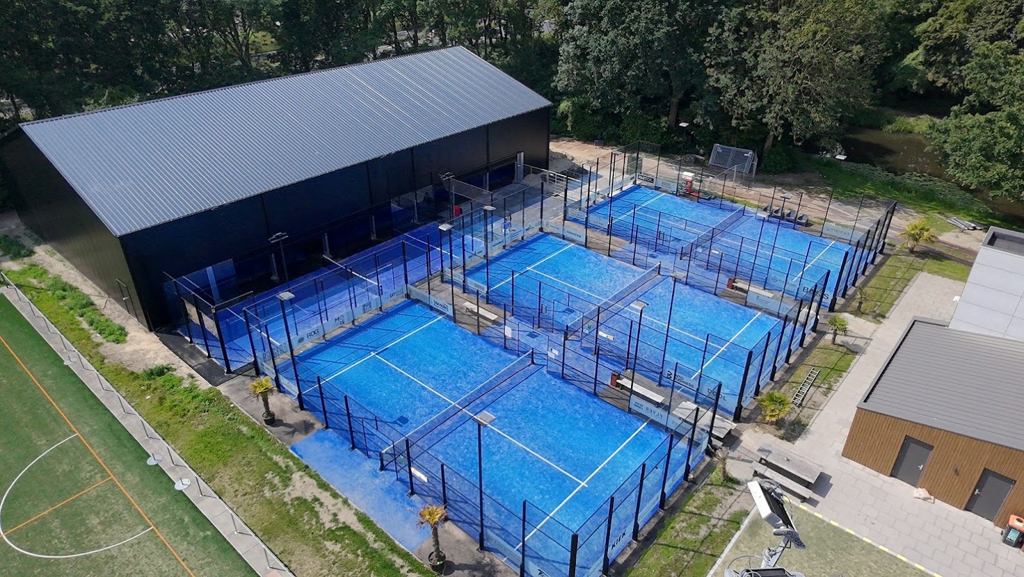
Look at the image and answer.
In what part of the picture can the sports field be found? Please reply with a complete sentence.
The sports field sits in the bottom left section of the image.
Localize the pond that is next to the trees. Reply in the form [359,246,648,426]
[770,73,1024,223]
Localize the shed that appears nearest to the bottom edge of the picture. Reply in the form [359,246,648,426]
[841,316,1024,536]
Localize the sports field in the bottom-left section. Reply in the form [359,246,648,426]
[0,290,249,577]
